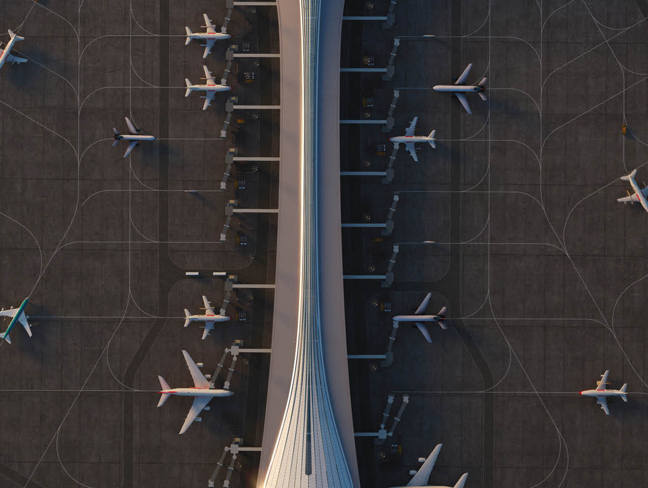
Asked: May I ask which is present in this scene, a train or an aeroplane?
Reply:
aeroplane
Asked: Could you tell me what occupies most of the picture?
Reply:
paved ground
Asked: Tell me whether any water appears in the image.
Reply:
No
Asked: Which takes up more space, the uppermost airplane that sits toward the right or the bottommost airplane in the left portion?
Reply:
the bottommost airplane in the left portion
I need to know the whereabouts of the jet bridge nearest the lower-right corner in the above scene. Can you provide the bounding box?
[355,393,408,444]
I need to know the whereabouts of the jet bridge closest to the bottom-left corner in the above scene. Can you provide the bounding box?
[208,435,261,487]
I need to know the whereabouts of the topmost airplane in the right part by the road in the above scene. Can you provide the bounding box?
[433,62,487,115]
